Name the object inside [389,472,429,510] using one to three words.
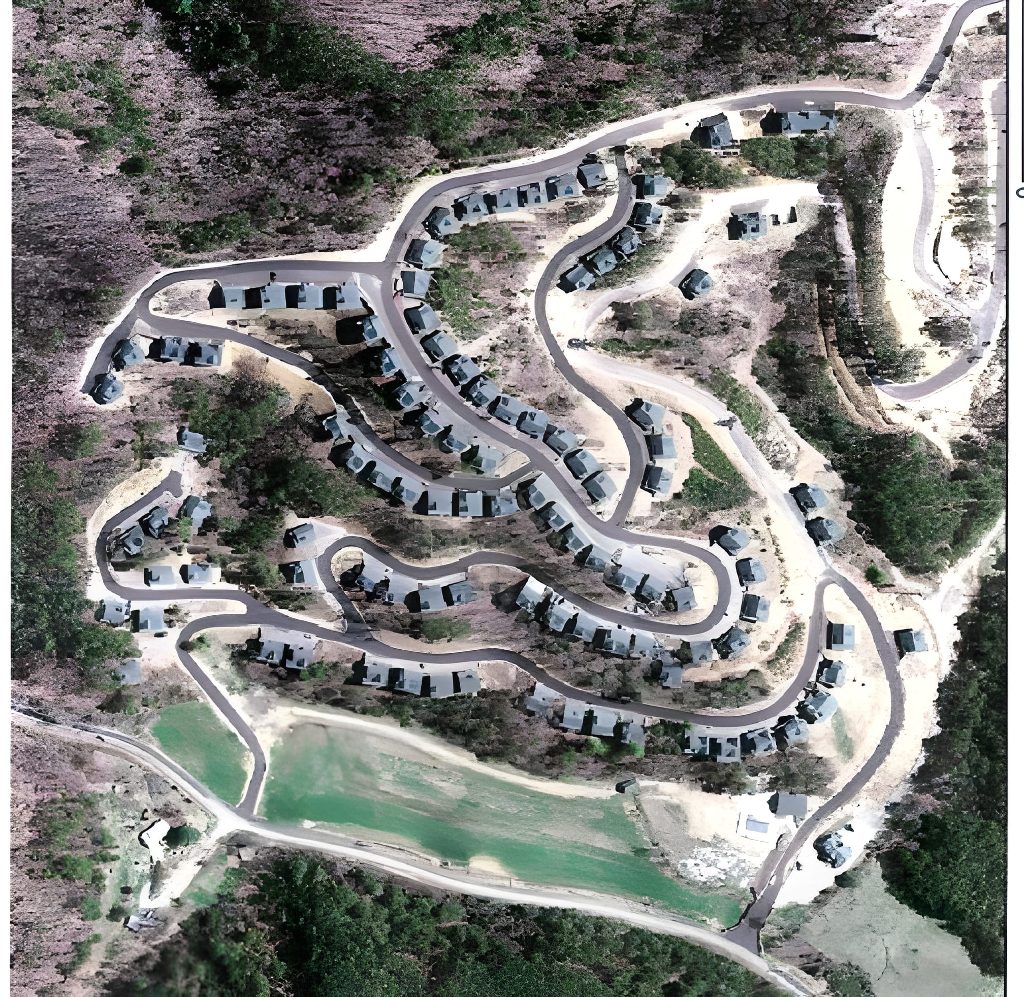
house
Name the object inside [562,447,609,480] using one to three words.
house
